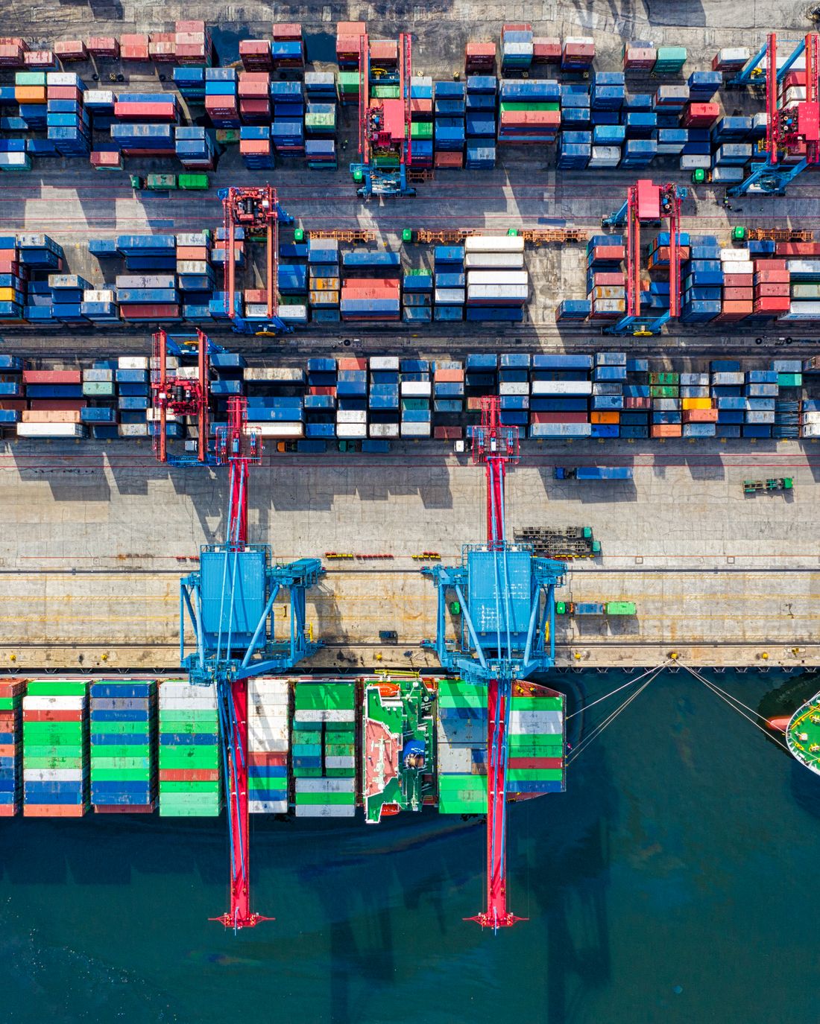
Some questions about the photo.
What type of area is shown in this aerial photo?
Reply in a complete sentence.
This image shows a port.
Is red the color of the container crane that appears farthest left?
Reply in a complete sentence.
Yes, the container crane that appears farthest left is indeed red.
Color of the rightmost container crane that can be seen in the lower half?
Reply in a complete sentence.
From above, the rightmost container crane that can be seen in the lower half appears blue.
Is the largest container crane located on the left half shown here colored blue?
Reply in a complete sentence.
Yes, the largest container crane located on the left half is indeed blue.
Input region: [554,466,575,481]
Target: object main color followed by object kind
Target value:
blue vehicle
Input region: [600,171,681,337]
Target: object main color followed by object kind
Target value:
red container crane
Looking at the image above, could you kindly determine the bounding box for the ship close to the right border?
[769,692,820,774]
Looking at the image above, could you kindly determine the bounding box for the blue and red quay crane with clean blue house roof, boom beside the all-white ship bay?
[176,399,332,942]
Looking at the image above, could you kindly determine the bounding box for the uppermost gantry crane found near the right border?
[723,33,820,195]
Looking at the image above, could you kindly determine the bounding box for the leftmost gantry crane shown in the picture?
[155,326,235,464]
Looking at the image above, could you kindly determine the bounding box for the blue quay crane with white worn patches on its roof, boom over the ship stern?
[417,399,568,941]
